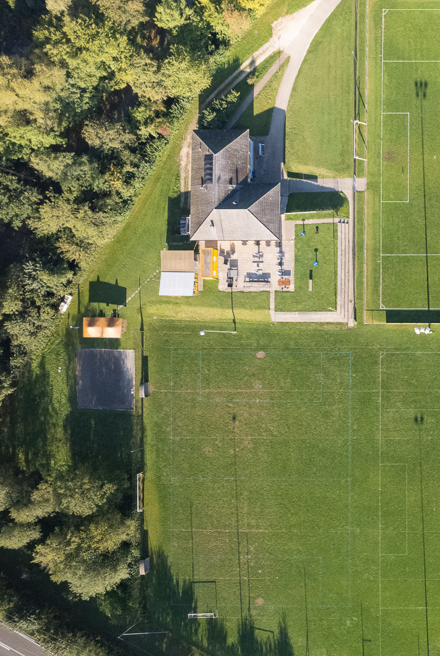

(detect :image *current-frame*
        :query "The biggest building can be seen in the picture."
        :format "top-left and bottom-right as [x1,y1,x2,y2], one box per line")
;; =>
[189,128,283,240]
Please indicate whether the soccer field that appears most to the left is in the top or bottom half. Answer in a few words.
bottom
